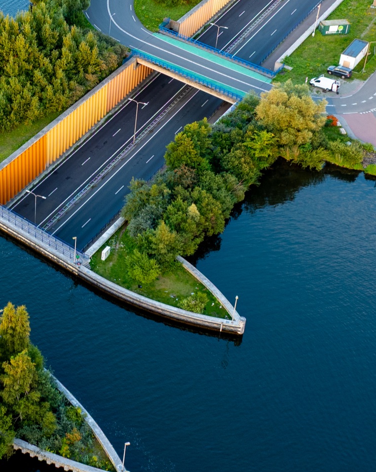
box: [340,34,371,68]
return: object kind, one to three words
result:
building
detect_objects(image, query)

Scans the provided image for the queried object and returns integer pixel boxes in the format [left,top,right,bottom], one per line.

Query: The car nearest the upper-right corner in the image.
[326,66,353,78]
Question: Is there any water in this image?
Yes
